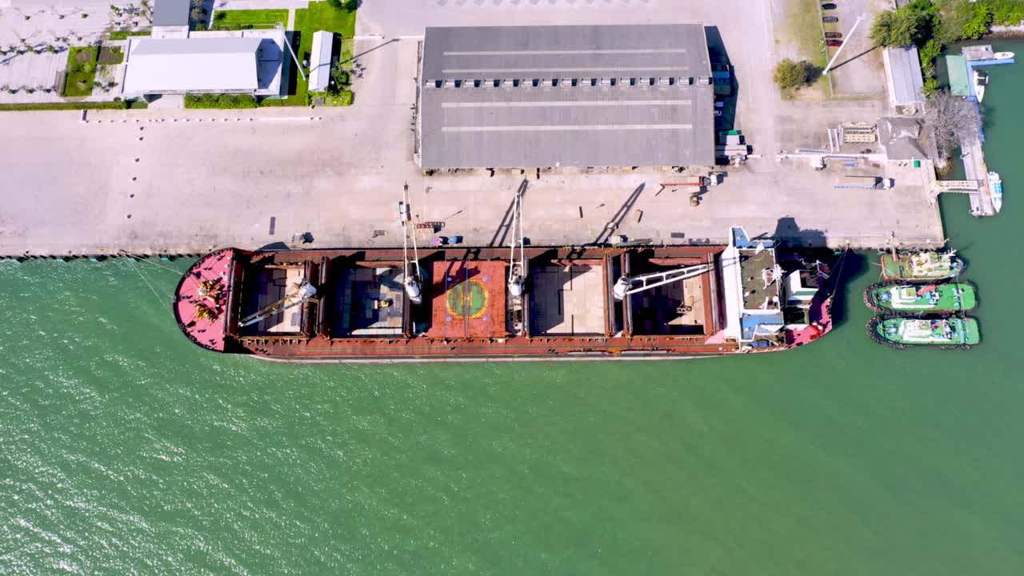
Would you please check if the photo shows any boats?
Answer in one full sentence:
Yes, there's a boat here.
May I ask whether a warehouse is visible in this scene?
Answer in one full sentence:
Yes, the photo shows a warehouse.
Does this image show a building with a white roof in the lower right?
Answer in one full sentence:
No, looking in the lower right, there is no building with a white roof.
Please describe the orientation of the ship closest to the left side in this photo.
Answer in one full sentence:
In this picture, the ship closest to the left side lies horizontally.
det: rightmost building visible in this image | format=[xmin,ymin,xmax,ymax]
[944,55,971,99]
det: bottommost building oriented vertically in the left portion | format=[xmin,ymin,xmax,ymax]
[309,30,333,95]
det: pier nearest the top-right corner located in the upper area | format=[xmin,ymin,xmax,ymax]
[960,45,993,62]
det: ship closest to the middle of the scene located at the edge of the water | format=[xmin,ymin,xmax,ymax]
[169,184,834,366]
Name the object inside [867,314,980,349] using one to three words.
boat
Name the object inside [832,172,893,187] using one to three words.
vehicle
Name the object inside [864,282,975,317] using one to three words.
boat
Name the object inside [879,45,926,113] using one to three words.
shed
